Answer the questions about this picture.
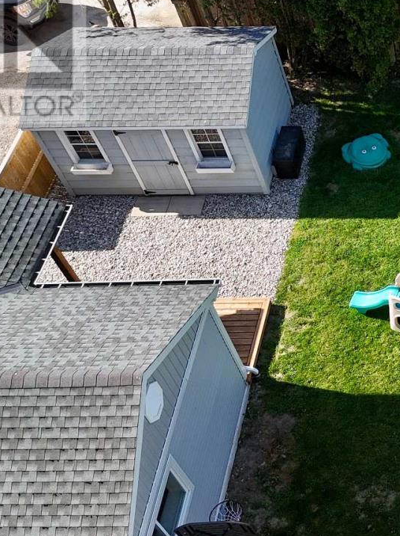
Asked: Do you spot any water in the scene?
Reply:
No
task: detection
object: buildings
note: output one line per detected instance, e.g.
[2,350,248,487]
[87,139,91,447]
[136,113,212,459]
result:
[20,30,293,197]
[0,185,275,536]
